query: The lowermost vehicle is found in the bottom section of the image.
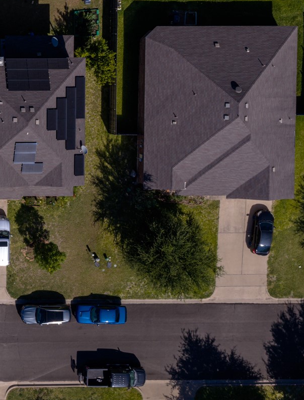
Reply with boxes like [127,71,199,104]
[85,364,149,390]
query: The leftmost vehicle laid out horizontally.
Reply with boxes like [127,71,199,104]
[20,304,71,329]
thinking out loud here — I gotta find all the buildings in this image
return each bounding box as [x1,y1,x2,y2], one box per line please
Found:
[137,25,298,201]
[0,34,90,199]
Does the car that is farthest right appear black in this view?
Yes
